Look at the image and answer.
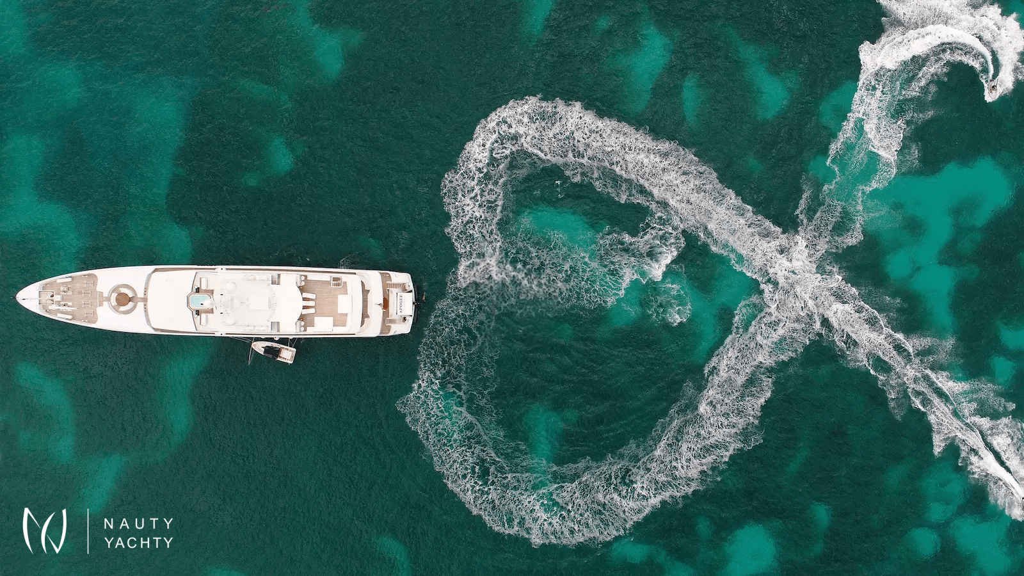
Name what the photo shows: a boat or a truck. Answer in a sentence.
This aerial view contains a boat.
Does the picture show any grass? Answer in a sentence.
No, no grass is visible.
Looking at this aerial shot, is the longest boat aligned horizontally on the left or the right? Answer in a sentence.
The longest boat aligned horizontally appears in the left half of the scene.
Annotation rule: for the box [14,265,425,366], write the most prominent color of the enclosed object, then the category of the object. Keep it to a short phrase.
white boat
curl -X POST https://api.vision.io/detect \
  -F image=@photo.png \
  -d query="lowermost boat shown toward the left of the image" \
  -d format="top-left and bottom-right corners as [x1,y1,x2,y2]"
[252,341,296,367]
